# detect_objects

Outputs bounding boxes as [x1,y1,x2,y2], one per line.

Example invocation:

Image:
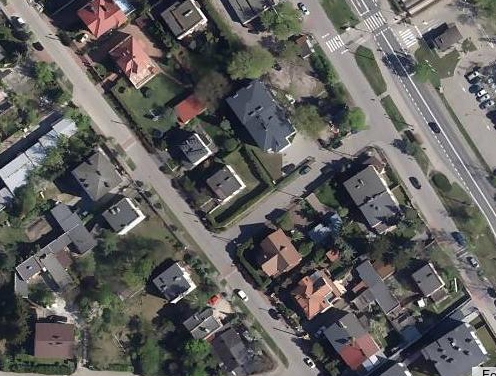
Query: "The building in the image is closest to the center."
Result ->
[207,165,248,205]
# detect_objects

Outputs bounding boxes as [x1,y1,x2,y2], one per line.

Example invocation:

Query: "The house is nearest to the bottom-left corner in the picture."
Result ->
[34,322,80,359]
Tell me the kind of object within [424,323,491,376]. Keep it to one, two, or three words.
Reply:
building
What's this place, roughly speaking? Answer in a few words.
residential area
